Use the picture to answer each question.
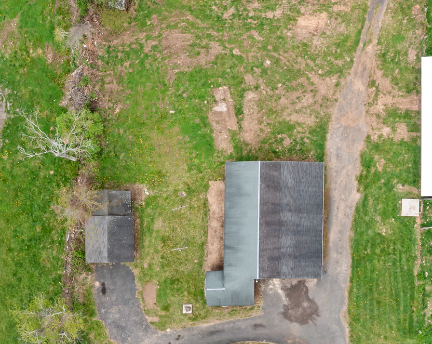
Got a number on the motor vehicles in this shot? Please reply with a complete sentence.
I count no motor vehicles.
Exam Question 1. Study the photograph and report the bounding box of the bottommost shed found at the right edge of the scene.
[399,200,421,216]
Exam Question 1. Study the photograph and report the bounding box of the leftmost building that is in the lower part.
[85,190,135,263]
